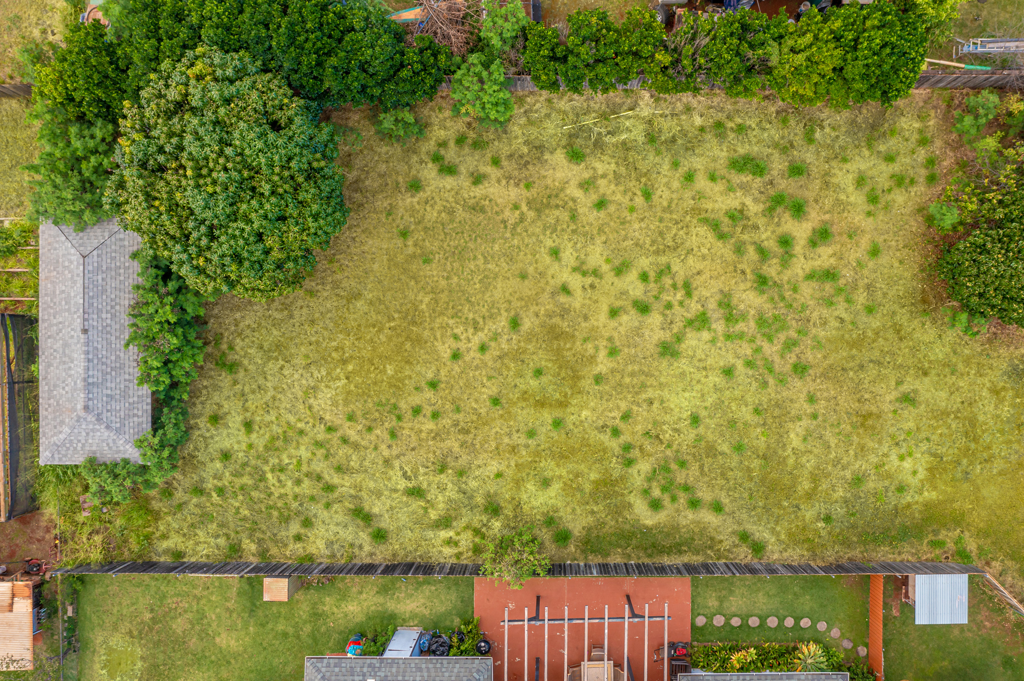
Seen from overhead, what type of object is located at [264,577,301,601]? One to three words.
shed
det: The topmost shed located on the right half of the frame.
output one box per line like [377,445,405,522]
[899,569,968,625]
